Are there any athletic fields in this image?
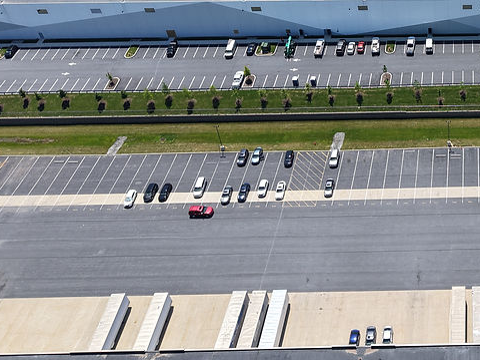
No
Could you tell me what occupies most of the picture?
paved ground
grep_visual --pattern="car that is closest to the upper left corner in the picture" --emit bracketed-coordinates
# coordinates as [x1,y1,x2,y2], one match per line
[4,44,20,58]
